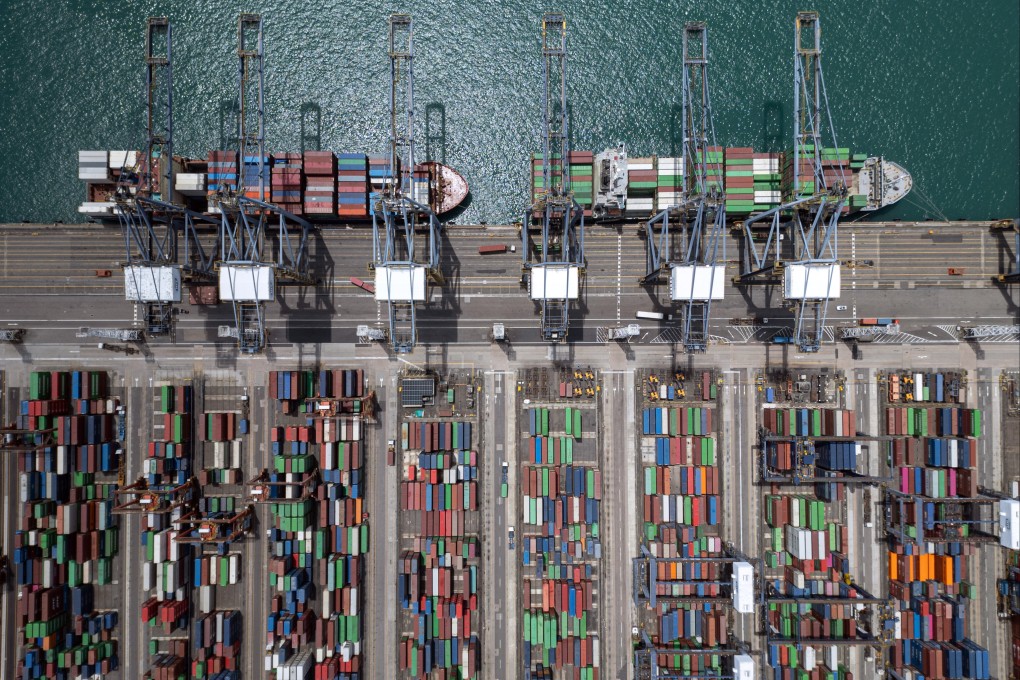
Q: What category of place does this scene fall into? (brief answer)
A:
port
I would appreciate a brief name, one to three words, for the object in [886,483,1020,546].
container crane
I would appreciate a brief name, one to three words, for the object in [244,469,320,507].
container crane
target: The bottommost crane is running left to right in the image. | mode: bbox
[632,624,761,680]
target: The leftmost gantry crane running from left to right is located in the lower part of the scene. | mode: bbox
[0,424,60,453]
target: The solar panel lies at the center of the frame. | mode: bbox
[402,380,433,405]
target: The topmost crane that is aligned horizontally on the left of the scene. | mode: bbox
[302,390,377,422]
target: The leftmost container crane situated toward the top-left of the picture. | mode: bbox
[106,12,250,337]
